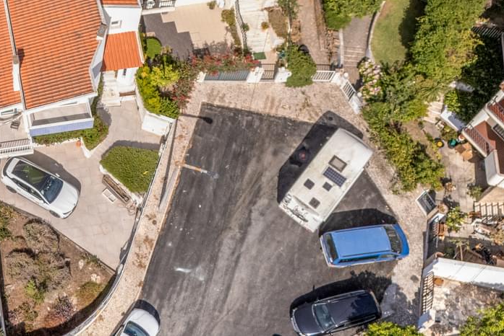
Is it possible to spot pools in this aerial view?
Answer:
No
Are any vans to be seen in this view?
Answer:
Yes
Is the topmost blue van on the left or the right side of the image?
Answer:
right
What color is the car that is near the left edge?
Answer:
white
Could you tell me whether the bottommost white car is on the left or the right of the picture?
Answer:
left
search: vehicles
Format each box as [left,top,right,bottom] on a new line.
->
[286,285,388,336]
[314,219,412,274]
[106,302,162,336]
[272,129,374,235]
[0,153,79,219]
